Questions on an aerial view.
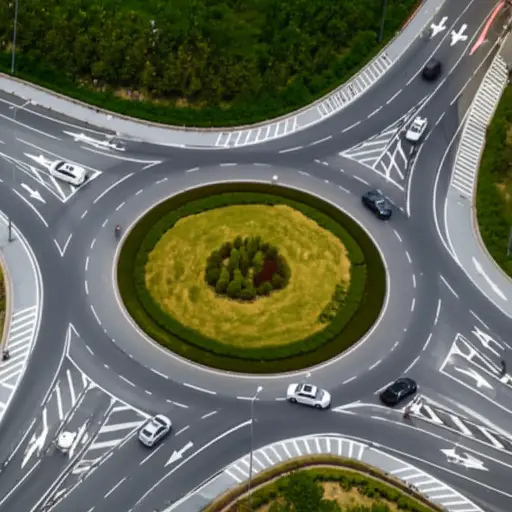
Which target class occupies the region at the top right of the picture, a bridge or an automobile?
automobile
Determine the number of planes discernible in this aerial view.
0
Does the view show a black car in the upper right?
Yes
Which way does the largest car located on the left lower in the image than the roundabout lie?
diagonally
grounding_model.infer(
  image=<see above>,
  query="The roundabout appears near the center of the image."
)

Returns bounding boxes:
[73,155,428,408]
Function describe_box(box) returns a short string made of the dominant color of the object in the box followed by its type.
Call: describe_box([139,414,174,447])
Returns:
white car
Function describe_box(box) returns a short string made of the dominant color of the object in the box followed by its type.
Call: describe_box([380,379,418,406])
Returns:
black car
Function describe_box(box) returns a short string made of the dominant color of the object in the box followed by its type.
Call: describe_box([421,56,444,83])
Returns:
black car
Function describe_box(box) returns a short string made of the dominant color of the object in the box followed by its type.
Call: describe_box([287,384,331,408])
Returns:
white car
